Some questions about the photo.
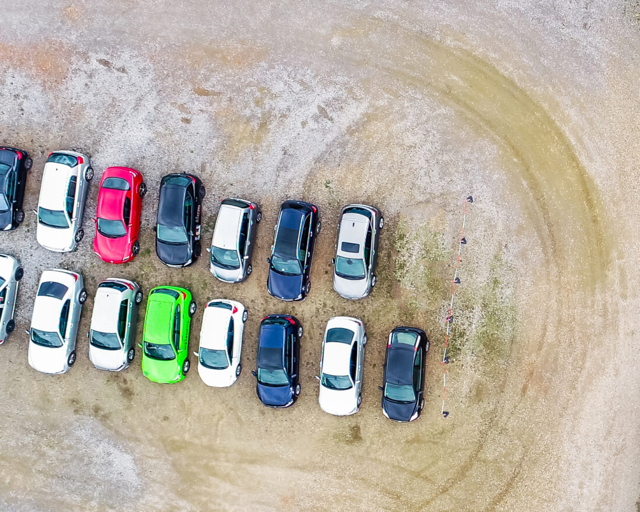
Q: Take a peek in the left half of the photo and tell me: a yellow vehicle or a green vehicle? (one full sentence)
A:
You can see a green vehicle in the left half of the photo.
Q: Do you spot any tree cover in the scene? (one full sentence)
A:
No, the picture contains no tree cover.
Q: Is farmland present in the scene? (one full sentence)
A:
No, farmland can't be seen anywhere here.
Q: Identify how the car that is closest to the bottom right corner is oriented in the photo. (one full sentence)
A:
In this picture, the car that is closest to the bottom right corner lies up and down.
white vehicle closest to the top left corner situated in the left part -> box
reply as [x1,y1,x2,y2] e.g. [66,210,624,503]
[29,148,93,254]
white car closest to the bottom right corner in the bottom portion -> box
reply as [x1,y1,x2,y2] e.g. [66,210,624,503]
[311,316,368,418]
